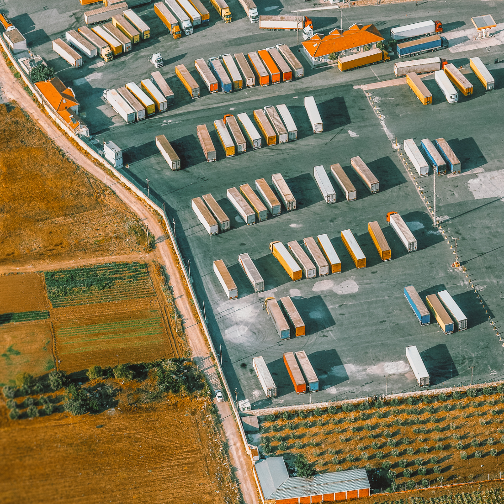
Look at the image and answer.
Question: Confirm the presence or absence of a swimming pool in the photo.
No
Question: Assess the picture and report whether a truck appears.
Yes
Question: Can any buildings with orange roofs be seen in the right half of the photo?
Yes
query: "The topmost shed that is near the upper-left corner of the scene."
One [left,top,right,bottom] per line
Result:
[4,28,26,53]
